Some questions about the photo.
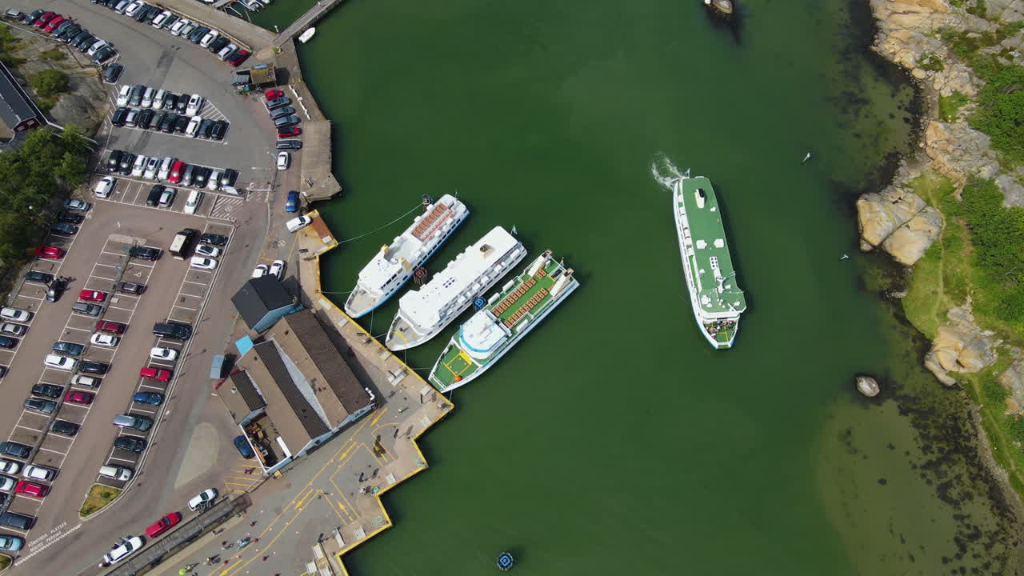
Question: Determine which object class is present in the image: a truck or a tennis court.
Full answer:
It is a truck that can be seen here.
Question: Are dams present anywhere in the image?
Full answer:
No, I find no dam anywhere in the image.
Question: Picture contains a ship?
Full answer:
Yes, I can see a ship in this picture.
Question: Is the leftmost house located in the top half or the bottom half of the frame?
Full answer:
The leftmost house sits in the top half of the picture.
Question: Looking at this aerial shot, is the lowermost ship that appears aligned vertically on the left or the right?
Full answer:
The lowermost ship that appears aligned vertically sits on the right side.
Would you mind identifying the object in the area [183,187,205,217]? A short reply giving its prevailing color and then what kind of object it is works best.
white vehicle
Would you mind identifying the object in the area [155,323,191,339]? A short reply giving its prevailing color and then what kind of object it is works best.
black vehicle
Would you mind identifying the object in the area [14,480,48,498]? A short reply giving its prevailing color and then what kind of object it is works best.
red car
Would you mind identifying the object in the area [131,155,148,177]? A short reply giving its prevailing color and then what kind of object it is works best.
white car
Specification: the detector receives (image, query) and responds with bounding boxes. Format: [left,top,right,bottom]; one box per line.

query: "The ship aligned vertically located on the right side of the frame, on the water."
[670,168,748,348]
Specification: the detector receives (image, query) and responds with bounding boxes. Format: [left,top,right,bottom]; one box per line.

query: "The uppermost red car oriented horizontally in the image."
[263,88,287,102]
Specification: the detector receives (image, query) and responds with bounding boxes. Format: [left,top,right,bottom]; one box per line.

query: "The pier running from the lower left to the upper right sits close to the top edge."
[272,0,341,49]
